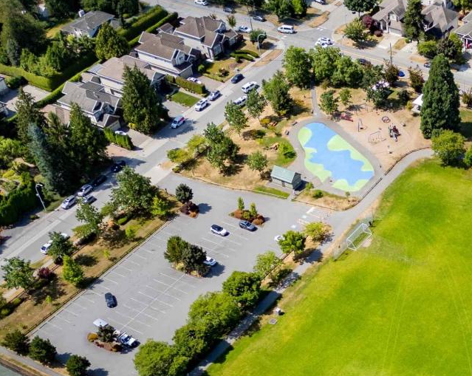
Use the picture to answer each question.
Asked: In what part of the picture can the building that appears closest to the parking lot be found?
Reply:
center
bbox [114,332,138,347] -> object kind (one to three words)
vehicle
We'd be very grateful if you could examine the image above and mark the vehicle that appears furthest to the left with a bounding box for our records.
[37,239,50,254]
